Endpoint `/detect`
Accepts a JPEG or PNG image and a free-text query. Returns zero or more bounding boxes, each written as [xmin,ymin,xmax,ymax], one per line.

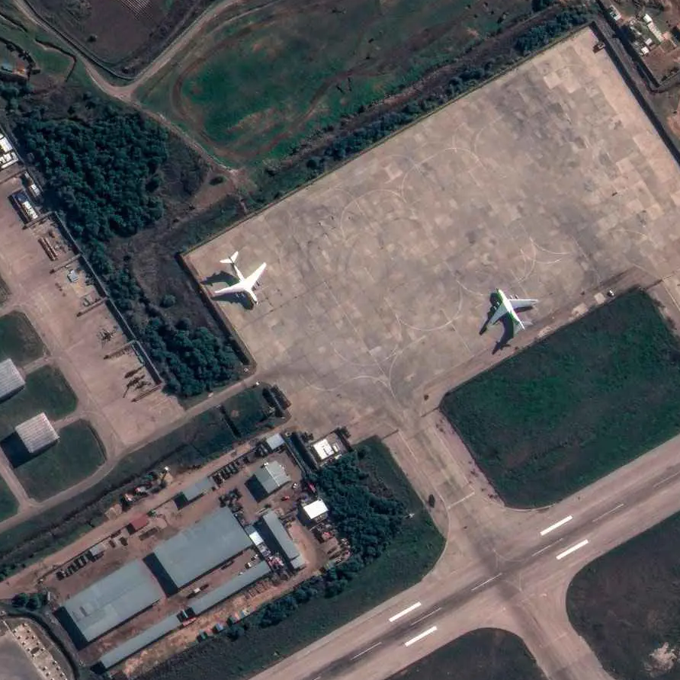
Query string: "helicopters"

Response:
[129,363,145,374]
[137,382,151,389]
[127,374,146,387]
[98,325,119,343]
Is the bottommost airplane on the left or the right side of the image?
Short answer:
right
